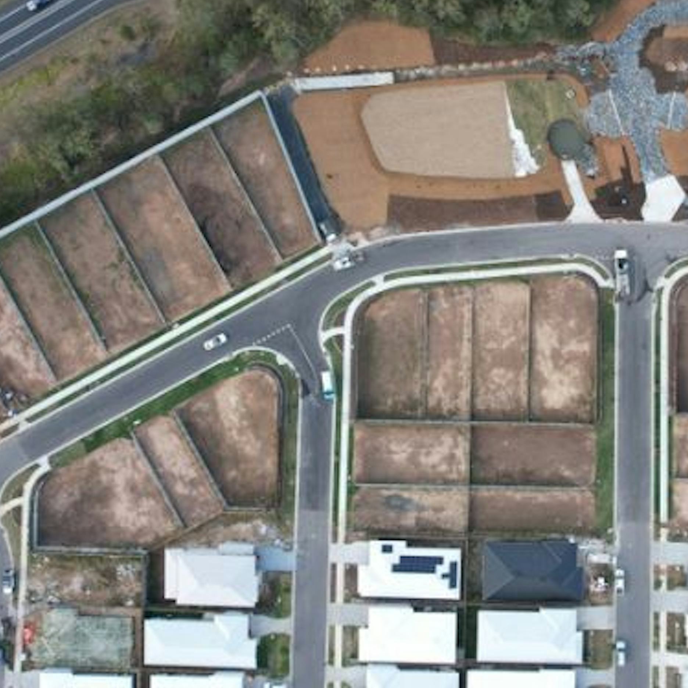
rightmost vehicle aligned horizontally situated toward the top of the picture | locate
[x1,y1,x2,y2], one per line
[331,254,356,269]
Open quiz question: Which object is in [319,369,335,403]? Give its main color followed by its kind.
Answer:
white vehicle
